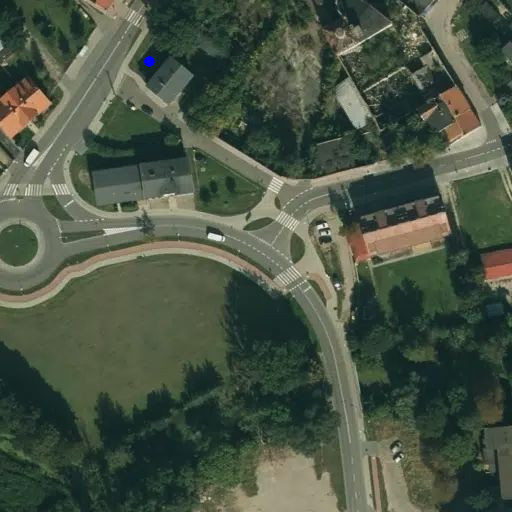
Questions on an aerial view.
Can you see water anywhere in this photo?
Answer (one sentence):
No, there's no water in this view.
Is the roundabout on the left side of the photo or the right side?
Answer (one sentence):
The roundabout is on the left side of the image.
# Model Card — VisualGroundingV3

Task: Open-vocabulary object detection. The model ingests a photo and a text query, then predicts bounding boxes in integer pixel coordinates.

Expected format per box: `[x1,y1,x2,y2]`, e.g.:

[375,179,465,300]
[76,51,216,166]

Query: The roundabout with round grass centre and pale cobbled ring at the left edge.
[0,201,61,289]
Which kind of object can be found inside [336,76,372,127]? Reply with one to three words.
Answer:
barn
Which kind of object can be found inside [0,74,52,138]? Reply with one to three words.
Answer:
house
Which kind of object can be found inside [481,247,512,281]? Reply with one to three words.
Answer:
house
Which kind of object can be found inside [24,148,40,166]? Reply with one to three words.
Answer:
vehicle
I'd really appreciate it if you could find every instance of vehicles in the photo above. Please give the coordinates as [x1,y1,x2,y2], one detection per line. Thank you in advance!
[24,148,40,166]
[80,7,90,19]
[124,98,136,108]
[316,222,330,230]
[319,236,332,244]
[318,229,332,237]
[394,452,406,464]
[390,440,402,453]
[334,280,342,292]
[78,44,90,58]
[208,232,225,242]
